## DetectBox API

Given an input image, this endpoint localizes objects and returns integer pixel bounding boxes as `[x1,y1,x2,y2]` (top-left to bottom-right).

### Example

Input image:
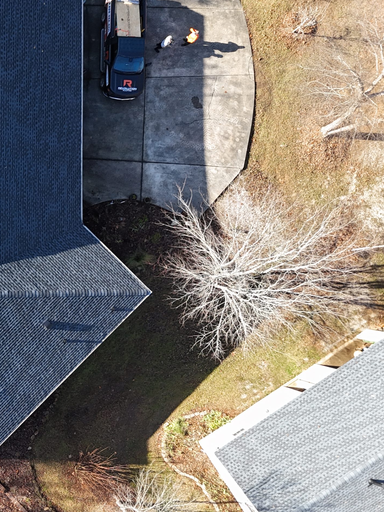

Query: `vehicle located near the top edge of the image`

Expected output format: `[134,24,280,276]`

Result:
[100,0,152,103]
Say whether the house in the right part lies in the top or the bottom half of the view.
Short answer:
bottom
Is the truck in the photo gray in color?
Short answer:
No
